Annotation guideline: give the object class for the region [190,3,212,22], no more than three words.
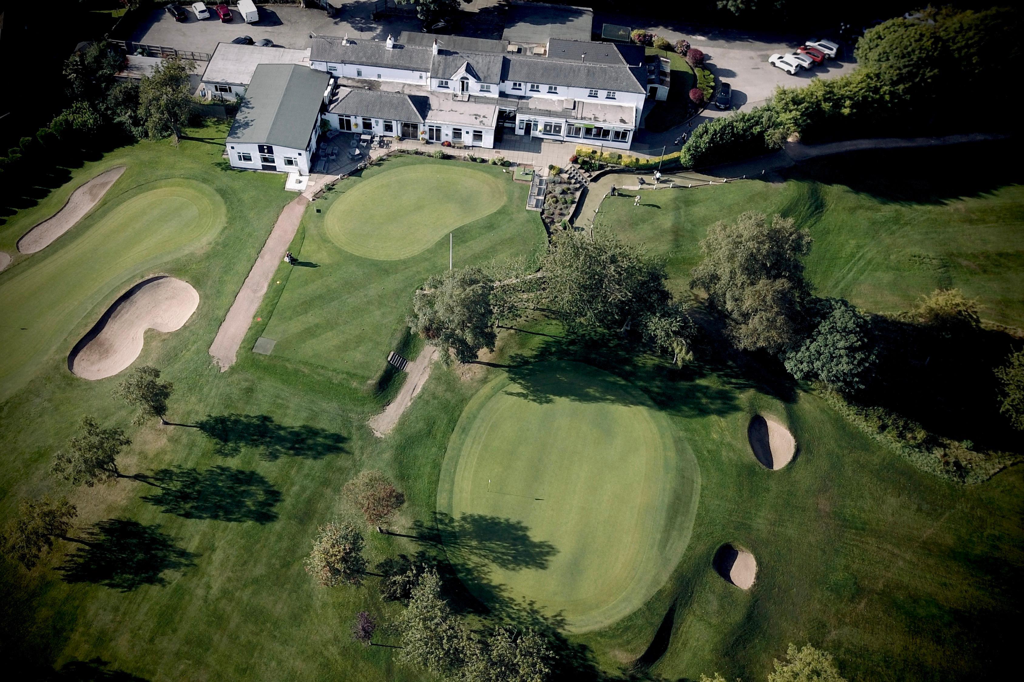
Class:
car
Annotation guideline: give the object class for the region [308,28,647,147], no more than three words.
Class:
building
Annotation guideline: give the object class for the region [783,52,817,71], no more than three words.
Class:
car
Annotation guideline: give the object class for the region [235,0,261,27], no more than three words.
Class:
vehicle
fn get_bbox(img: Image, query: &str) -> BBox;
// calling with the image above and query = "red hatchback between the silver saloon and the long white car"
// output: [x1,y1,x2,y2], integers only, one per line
[793,46,828,66]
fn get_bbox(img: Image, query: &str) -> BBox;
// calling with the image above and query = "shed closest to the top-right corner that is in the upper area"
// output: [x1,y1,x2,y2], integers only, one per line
[646,41,671,98]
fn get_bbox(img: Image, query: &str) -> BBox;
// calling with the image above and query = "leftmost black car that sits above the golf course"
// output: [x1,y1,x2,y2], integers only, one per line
[164,3,190,25]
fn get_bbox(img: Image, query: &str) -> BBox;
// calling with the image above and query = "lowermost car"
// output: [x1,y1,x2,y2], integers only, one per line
[714,80,733,109]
